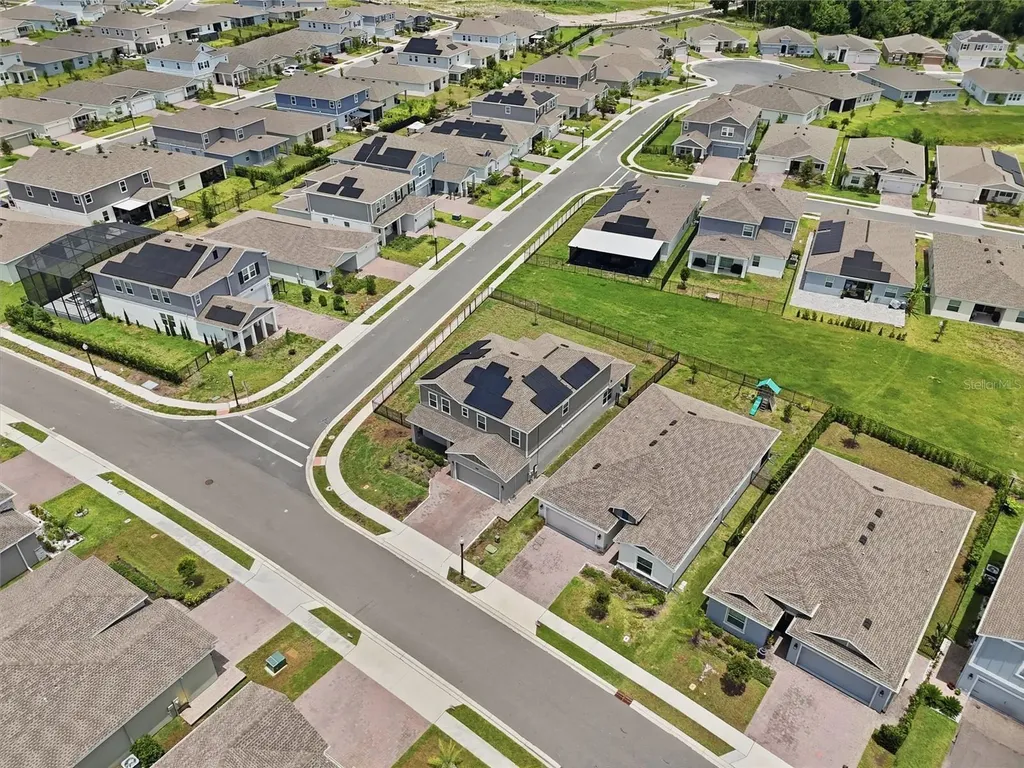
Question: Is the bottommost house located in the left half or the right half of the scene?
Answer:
left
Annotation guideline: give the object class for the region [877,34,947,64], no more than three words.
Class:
house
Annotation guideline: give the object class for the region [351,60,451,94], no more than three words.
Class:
house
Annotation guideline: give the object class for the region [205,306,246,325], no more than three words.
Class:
solar panel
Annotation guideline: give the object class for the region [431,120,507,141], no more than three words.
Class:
solar panel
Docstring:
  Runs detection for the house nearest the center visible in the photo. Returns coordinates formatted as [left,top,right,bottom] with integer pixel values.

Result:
[402,332,637,503]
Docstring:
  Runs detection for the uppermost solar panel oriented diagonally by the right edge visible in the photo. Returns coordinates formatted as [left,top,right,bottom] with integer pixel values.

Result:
[992,150,1024,190]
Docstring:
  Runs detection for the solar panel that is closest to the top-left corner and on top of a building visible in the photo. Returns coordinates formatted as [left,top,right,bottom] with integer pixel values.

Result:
[101,243,208,288]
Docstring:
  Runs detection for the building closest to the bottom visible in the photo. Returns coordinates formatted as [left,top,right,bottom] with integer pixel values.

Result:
[149,680,333,768]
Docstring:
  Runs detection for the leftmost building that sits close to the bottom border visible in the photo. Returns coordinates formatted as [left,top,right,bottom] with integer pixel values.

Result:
[0,547,224,768]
